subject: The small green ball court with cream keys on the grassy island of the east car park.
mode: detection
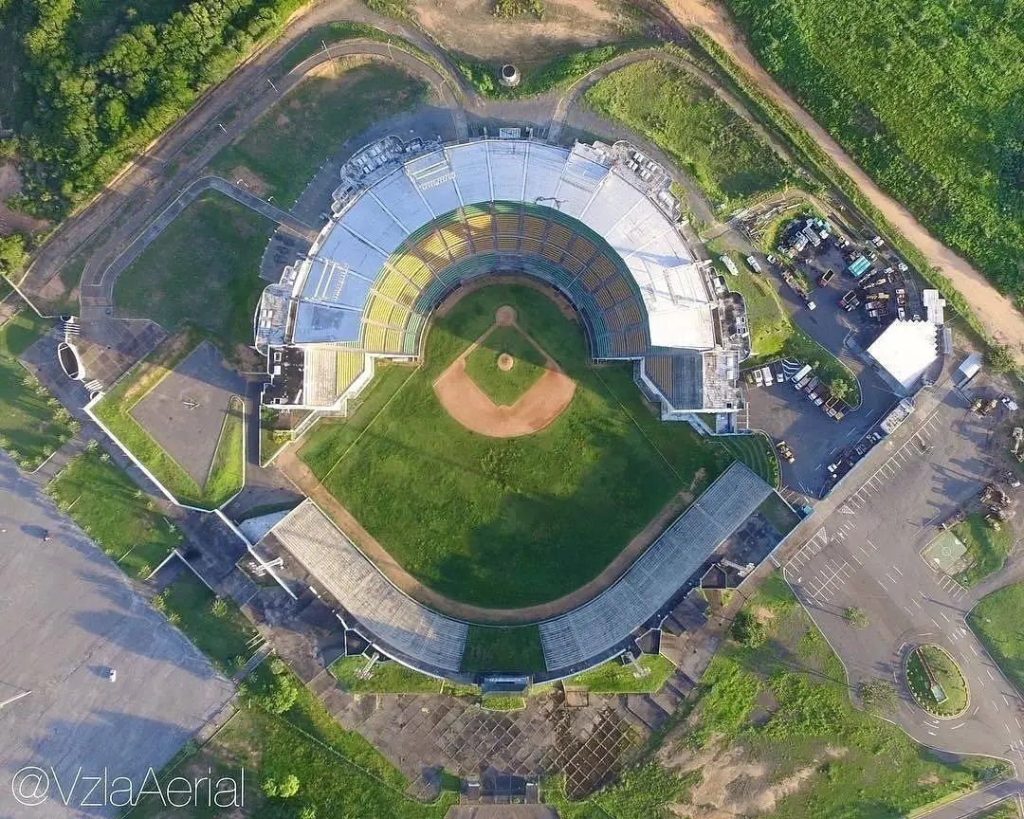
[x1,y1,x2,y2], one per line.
[924,527,975,575]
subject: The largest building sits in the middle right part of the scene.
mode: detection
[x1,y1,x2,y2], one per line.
[843,319,937,399]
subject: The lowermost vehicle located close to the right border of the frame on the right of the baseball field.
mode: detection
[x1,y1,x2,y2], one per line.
[989,513,1002,532]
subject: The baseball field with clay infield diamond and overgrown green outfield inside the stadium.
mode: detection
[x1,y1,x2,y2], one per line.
[275,276,736,623]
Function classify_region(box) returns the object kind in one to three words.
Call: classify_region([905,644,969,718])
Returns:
roundabout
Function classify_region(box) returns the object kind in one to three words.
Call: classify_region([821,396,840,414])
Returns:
vehicle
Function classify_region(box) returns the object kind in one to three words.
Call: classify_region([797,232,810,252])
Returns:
vehicle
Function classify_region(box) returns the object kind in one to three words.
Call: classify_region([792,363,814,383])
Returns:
bus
